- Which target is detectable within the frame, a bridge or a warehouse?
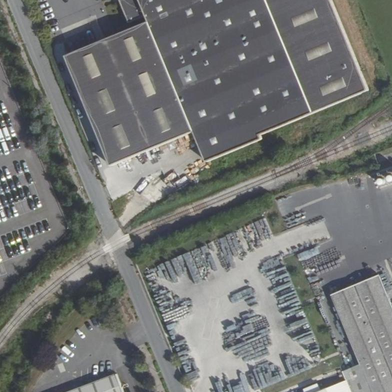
warehouse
